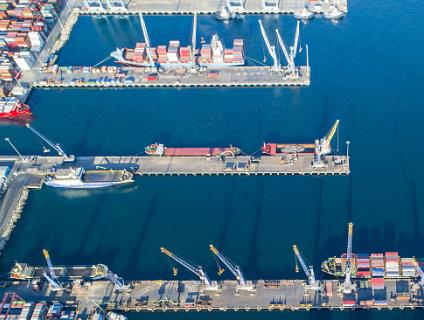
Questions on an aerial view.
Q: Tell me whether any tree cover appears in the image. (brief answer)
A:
No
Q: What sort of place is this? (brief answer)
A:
port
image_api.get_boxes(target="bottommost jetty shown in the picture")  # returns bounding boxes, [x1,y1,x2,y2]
[108,280,424,312]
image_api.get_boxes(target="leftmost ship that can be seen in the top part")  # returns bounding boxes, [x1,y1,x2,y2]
[0,92,33,118]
